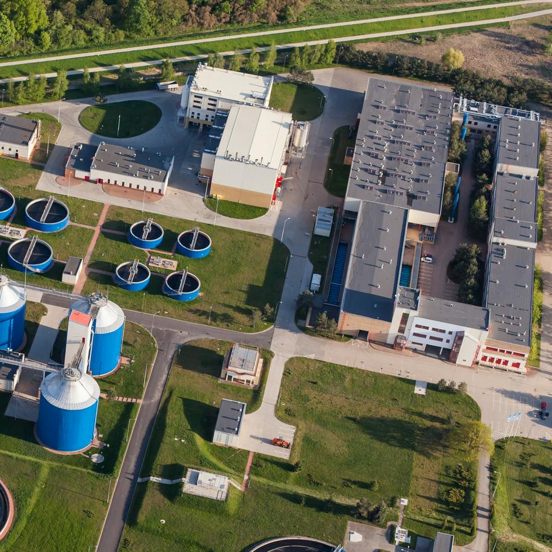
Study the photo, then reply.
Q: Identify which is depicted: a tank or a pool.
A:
tank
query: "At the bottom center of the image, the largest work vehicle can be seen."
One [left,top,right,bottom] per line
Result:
[273,437,293,451]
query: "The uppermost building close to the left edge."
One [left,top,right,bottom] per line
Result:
[0,114,41,159]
